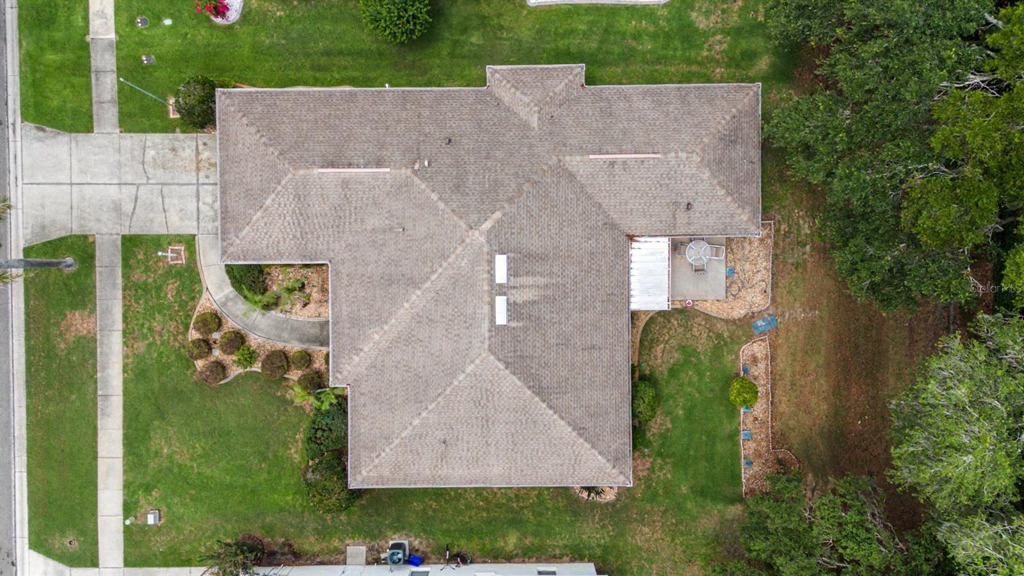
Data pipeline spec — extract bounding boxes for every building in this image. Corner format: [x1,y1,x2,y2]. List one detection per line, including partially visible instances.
[216,64,763,490]
[211,562,596,576]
